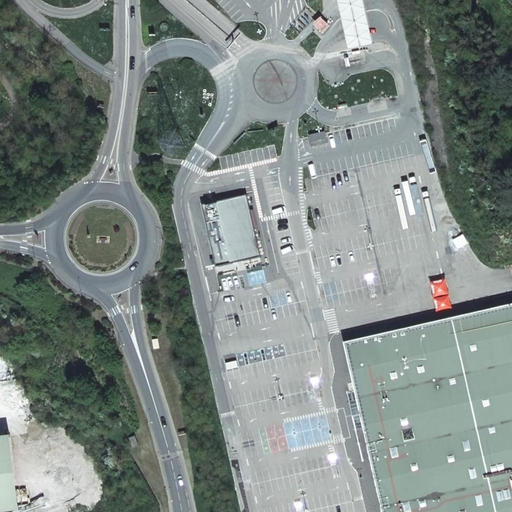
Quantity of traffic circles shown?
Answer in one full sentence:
The picture shows 2 traffic circles.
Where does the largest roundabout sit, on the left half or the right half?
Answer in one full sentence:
It is on the left.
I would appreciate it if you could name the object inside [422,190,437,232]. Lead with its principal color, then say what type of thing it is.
white vehicle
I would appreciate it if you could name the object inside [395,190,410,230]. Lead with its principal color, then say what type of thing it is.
white vehicle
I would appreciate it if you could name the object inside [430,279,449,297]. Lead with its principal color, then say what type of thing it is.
red gazebo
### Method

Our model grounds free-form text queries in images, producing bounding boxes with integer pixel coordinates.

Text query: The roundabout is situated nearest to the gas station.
[236,41,316,121]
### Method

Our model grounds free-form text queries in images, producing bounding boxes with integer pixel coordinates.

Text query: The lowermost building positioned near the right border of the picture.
[344,304,512,512]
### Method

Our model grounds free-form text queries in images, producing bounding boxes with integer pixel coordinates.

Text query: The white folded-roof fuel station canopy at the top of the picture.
[338,0,373,48]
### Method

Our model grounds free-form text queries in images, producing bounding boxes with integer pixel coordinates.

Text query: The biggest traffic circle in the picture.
[44,181,161,295]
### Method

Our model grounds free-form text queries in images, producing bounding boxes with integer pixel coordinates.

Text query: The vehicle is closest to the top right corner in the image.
[420,138,436,173]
